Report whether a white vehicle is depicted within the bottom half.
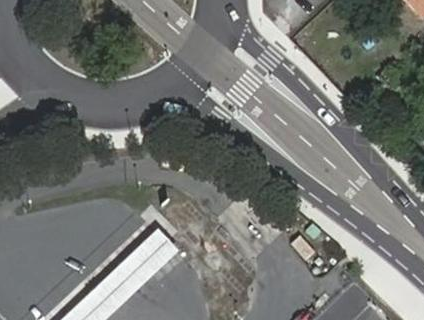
Yes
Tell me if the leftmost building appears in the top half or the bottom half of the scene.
bottom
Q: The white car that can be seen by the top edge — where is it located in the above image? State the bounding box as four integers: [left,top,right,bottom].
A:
[225,2,240,24]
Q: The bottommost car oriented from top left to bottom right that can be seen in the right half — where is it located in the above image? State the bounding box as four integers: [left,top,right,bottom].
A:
[246,222,263,240]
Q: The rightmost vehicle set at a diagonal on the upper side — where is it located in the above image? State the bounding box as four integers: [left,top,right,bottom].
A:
[316,108,338,128]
